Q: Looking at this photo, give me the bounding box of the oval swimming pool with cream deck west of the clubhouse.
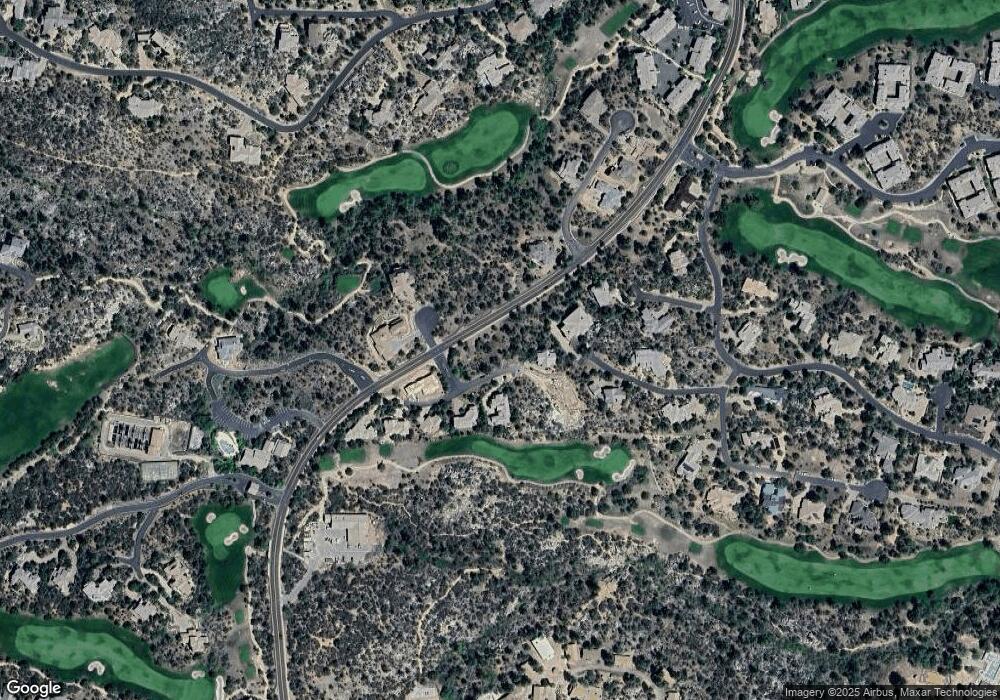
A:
[215,431,238,457]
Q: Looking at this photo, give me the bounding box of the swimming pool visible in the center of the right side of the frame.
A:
[898,377,918,391]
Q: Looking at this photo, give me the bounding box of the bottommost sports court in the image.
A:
[142,461,178,481]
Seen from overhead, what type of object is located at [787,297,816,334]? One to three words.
house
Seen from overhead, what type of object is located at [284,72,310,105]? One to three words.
house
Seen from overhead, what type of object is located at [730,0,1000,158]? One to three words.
golf course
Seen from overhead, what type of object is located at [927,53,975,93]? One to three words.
building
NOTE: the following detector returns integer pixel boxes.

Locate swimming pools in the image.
[898,377,918,391]
[215,431,238,457]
